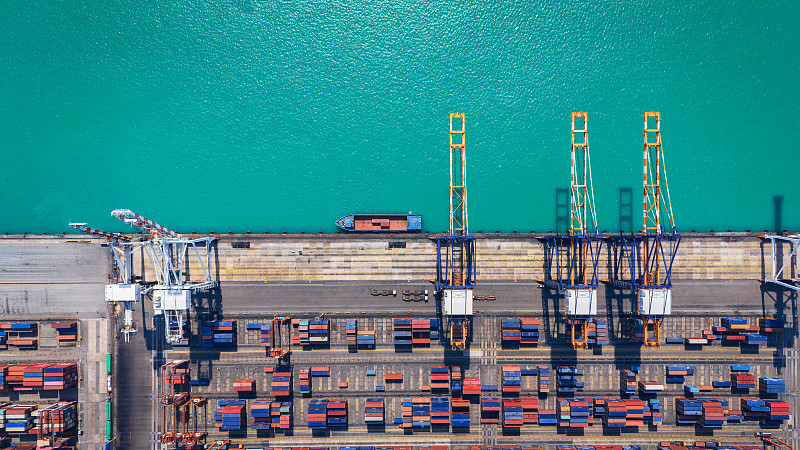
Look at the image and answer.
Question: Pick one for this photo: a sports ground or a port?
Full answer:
The area seen from above is a port.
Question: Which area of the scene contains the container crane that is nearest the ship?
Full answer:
Look in the center portion of the view to spot the container crane that is nearest the ship.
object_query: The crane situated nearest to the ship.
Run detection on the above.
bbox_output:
[429,112,478,350]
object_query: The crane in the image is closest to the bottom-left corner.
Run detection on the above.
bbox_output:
[41,399,81,450]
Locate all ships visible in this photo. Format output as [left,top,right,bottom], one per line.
[325,213,434,235]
